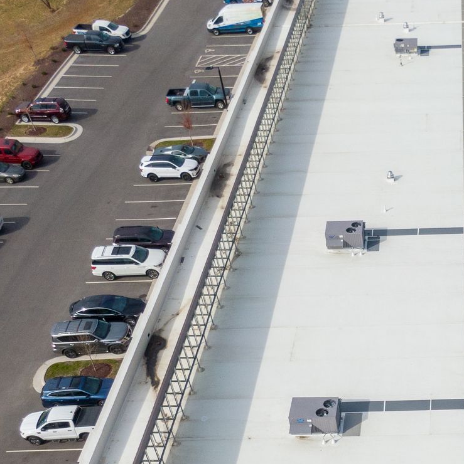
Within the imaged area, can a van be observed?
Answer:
Yes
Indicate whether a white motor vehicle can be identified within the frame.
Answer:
Yes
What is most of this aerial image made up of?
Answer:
buildings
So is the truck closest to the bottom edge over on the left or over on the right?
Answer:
left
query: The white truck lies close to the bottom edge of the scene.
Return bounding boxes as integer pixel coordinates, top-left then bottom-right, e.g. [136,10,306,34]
[15,407,102,446]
